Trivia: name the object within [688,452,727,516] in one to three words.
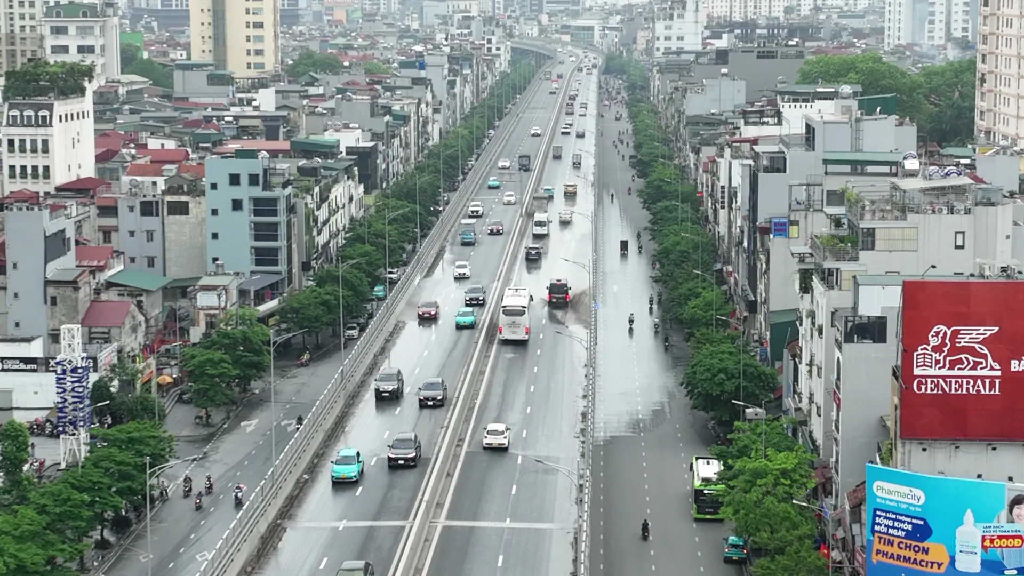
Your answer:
bus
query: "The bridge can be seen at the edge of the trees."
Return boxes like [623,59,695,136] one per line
[187,32,607,576]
